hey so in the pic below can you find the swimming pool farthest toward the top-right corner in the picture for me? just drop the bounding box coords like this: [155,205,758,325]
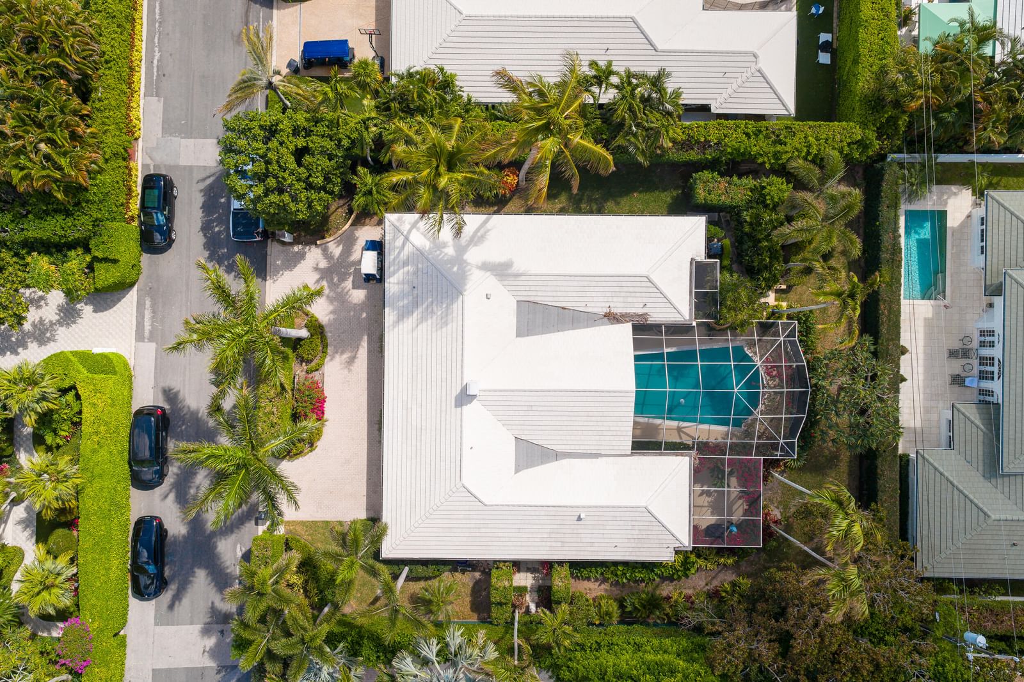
[900,205,956,307]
